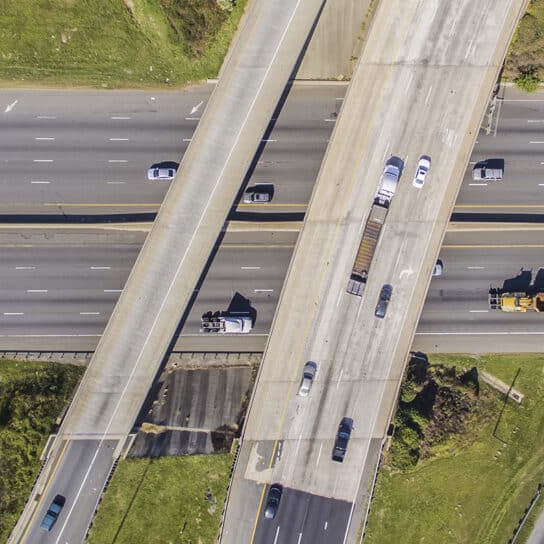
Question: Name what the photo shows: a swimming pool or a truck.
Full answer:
The one in the frame is a truck.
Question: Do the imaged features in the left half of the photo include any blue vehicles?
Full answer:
Yes, you'll find a blue vehicle in the left half of the photo.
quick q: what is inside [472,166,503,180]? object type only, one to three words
vehicle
